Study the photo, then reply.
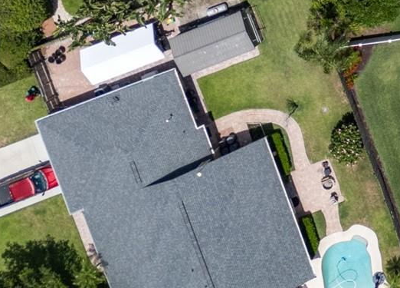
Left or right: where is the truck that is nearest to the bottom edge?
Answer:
left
